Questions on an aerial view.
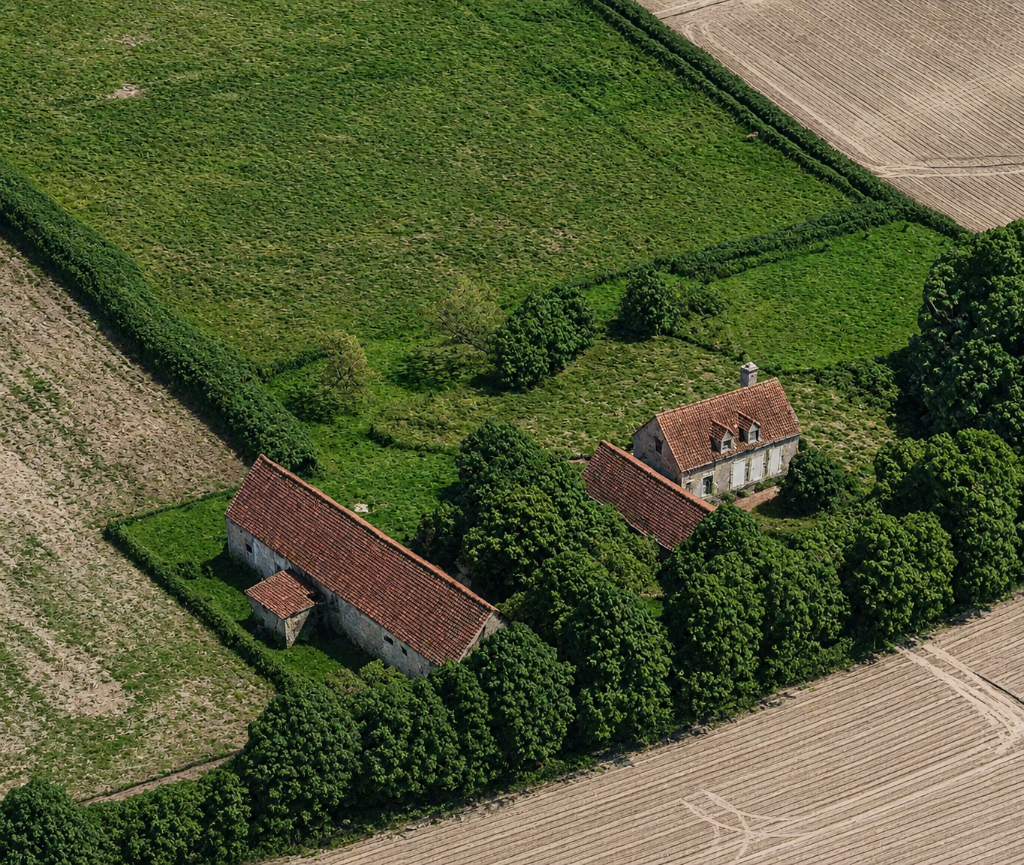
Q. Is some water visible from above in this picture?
No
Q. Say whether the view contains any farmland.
Yes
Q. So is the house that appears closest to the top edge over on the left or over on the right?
right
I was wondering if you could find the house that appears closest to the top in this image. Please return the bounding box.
[628,359,801,506]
